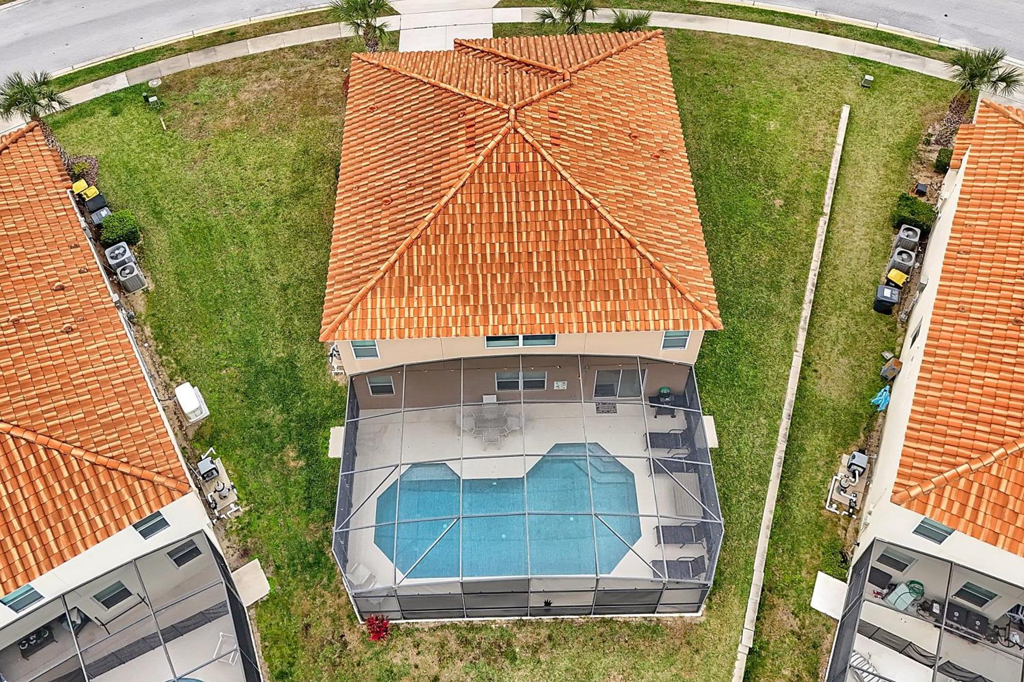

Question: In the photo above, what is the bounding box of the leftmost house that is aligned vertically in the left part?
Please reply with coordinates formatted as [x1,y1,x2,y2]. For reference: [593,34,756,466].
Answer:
[0,121,221,669]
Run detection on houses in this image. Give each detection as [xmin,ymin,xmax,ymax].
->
[855,95,1024,628]
[0,121,221,669]
[316,28,723,407]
